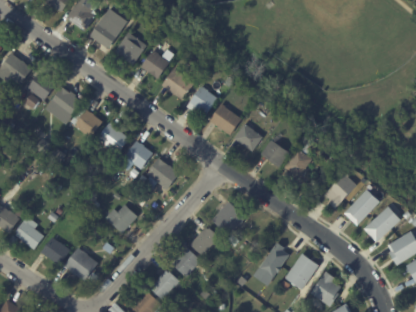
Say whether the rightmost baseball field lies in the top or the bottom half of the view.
top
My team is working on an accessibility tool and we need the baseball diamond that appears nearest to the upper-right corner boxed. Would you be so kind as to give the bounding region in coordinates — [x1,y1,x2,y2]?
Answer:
[246,0,416,92]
